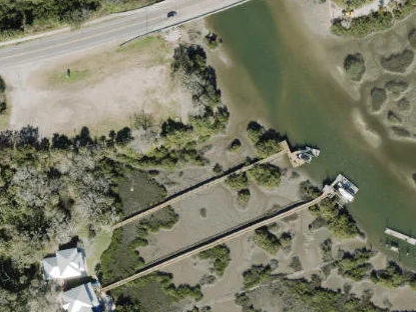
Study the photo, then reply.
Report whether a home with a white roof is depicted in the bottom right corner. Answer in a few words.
No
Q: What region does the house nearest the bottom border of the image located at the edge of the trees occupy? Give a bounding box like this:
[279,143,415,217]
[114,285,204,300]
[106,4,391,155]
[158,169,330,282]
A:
[62,283,99,312]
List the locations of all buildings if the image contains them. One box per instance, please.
[41,250,84,281]
[62,283,99,312]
